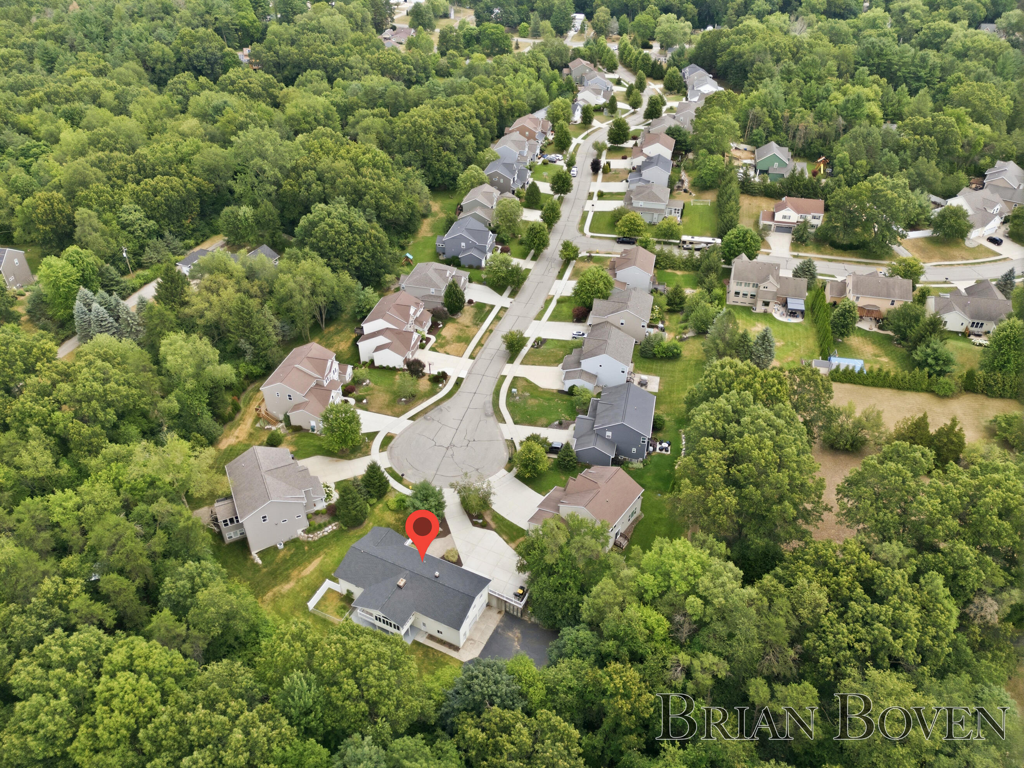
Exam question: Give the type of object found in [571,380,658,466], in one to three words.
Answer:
house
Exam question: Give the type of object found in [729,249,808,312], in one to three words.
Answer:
house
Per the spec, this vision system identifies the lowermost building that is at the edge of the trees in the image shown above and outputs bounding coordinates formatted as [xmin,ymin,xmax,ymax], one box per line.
[333,528,493,647]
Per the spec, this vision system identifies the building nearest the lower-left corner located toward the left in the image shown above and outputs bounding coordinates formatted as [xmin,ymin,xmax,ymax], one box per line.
[214,444,327,553]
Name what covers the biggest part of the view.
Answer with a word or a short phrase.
trees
